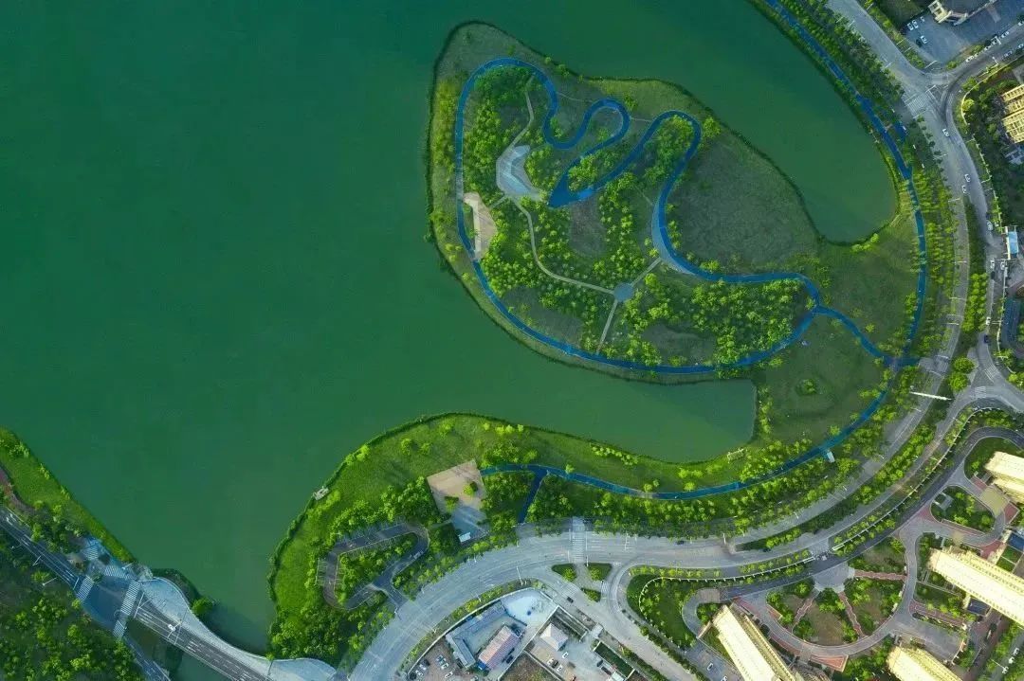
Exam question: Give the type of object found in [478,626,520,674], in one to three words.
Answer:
building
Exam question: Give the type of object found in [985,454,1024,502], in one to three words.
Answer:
building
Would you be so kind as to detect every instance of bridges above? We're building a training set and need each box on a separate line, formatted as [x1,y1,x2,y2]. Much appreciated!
[133,576,344,681]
